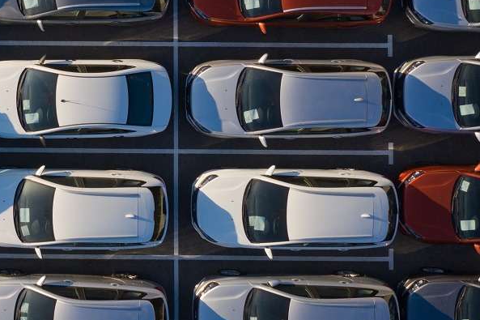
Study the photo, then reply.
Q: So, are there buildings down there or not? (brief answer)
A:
No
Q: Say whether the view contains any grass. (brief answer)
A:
No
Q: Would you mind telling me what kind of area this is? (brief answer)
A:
parking lot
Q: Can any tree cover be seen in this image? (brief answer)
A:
No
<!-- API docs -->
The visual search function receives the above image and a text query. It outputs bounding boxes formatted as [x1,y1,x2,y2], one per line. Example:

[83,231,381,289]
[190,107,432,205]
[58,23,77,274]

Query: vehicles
[393,160,480,252]
[400,0,480,31]
[388,48,480,144]
[193,265,397,320]
[185,52,390,148]
[0,266,168,320]
[191,164,396,259]
[396,264,480,320]
[0,0,167,32]
[0,52,172,148]
[0,164,167,260]
[186,0,388,33]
